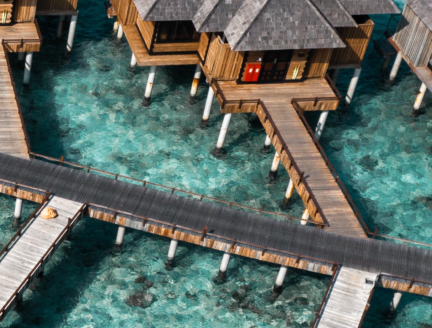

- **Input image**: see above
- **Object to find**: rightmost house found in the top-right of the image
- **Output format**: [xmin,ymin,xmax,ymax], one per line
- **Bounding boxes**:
[381,0,432,108]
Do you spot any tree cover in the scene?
No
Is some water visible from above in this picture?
Yes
